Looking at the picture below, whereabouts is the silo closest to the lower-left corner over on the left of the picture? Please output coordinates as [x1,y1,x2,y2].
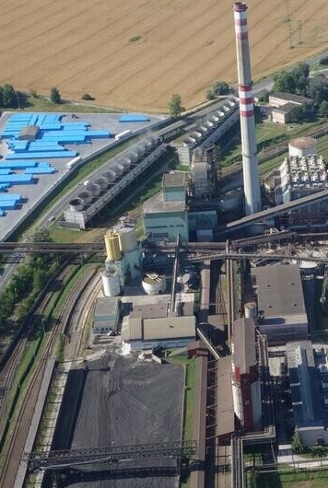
[101,271,122,295]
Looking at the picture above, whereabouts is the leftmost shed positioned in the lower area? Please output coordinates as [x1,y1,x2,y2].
[93,296,124,331]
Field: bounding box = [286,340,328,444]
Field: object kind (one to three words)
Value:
building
